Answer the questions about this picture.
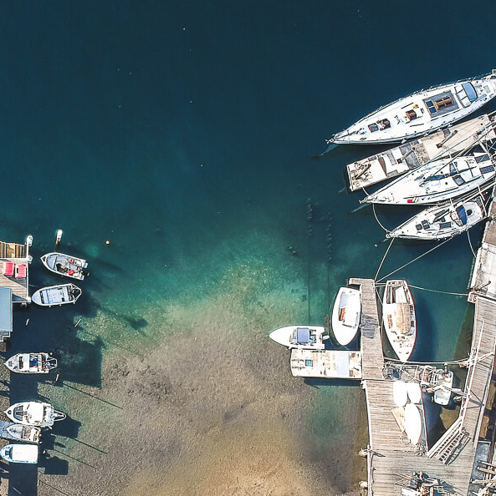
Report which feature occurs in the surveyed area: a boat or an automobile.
boat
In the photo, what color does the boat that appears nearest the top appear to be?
white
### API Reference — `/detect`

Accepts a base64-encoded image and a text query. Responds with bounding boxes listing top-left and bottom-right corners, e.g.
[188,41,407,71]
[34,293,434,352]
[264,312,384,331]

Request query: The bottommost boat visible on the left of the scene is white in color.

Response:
[0,443,39,465]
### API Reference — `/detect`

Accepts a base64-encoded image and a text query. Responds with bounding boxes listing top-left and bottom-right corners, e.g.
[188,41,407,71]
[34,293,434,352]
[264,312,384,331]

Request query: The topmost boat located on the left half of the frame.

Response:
[41,252,95,283]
